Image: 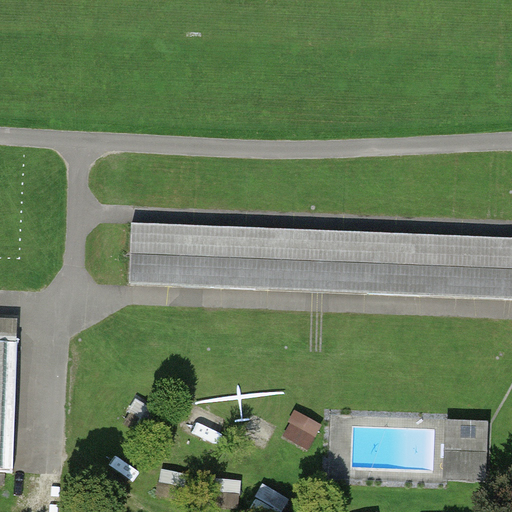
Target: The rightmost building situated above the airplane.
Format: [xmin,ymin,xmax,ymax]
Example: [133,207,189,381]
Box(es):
[126,222,512,300]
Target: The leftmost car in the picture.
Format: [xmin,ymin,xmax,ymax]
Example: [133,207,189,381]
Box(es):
[13,470,25,496]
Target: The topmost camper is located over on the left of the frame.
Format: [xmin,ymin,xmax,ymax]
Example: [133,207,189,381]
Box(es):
[188,422,222,444]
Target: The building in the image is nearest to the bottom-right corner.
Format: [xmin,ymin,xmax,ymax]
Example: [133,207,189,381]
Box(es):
[442,419,488,483]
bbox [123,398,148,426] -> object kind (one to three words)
building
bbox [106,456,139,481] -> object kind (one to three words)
camper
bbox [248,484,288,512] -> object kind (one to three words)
shed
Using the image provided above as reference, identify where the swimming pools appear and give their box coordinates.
[350,426,435,477]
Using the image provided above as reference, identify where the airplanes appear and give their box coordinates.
[196,384,285,420]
